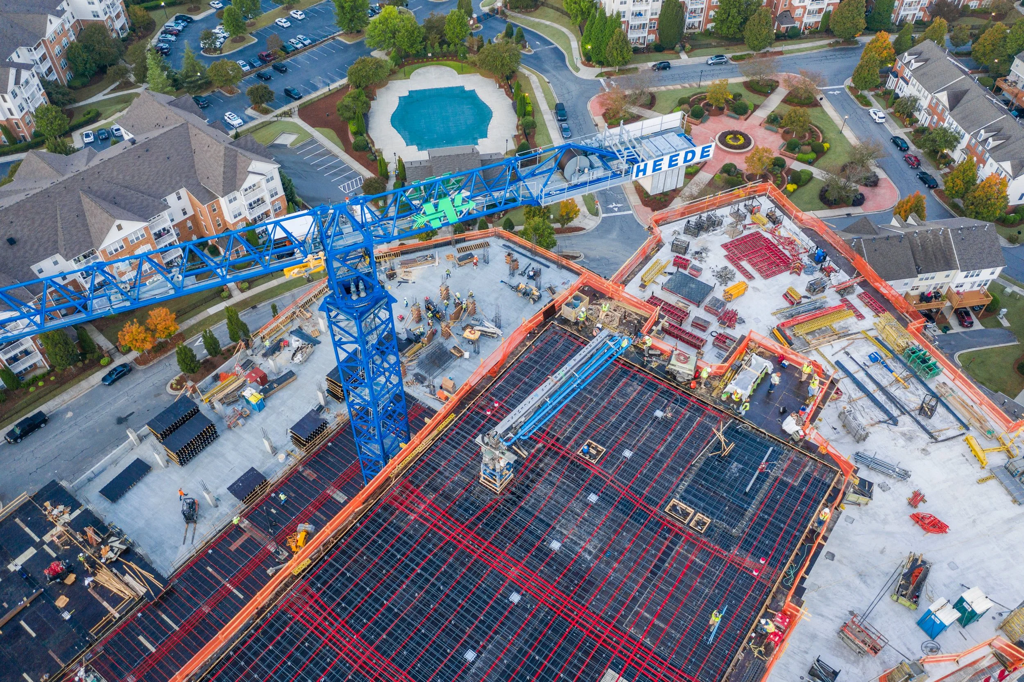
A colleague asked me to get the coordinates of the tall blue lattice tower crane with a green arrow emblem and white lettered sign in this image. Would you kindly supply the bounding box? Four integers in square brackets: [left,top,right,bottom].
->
[0,106,716,484]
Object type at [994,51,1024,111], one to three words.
house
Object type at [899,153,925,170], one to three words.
car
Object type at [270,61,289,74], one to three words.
vehicle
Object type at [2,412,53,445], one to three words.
truck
